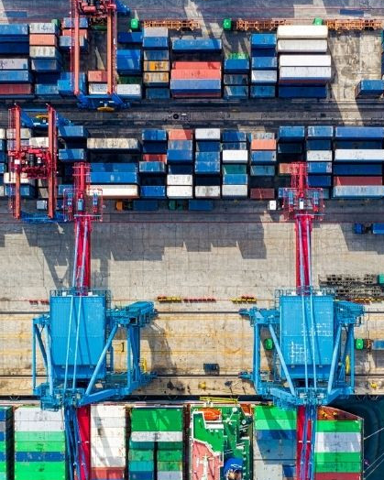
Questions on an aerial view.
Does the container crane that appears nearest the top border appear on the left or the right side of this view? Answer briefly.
left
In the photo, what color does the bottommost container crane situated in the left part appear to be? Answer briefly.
blue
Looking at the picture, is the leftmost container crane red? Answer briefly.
Yes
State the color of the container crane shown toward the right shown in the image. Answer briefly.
blue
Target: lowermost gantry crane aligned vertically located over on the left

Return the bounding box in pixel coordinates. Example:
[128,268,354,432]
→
[28,162,160,480]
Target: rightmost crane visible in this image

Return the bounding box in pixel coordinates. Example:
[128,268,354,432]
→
[236,162,368,480]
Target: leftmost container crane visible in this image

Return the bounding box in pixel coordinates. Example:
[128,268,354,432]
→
[11,102,75,220]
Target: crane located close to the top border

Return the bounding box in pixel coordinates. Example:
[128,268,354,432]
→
[70,0,129,110]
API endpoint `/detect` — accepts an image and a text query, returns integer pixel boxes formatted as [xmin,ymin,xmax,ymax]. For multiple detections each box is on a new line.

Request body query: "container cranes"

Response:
[70,0,129,110]
[236,162,368,480]
[11,102,75,220]
[28,162,160,480]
